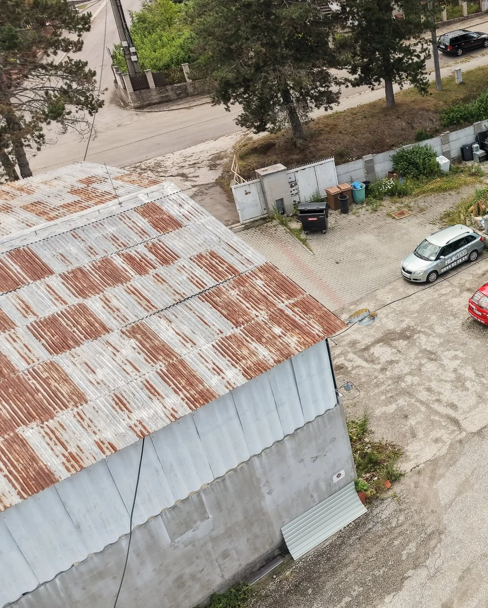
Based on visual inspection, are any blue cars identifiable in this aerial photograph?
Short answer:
No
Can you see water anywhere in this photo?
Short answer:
No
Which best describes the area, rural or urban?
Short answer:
urban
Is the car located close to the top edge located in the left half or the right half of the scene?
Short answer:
right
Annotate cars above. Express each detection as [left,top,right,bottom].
[398,222,487,282]
[437,27,488,55]
[464,280,488,326]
